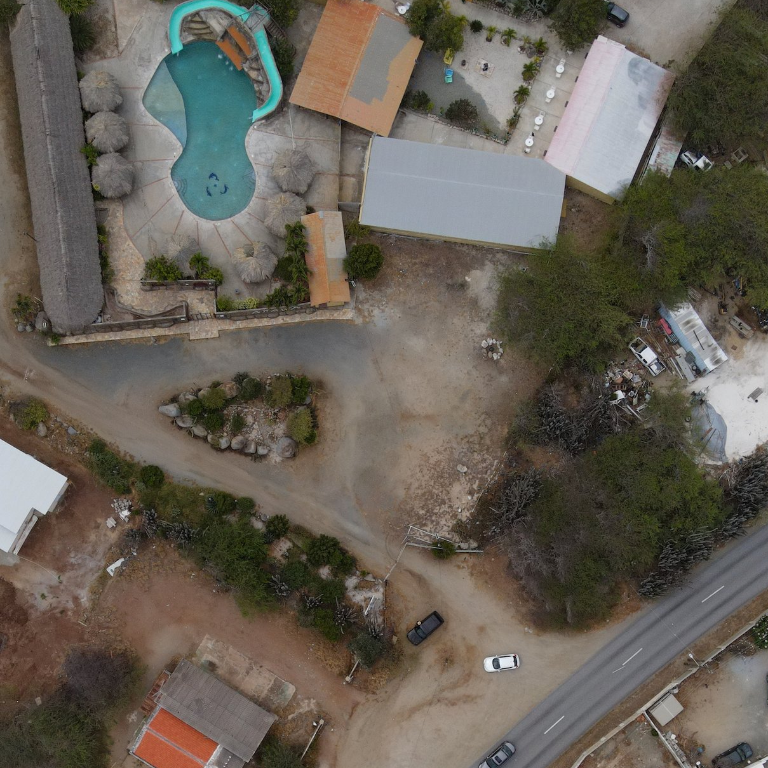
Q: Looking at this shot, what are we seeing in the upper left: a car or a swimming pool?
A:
swimming pool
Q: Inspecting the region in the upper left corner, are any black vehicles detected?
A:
No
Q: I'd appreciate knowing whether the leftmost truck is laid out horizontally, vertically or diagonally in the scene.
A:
diagonally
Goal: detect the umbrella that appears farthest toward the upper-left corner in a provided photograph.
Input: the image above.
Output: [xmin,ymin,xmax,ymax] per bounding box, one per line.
[80,69,129,114]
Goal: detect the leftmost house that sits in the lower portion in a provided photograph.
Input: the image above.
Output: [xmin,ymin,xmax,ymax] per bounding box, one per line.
[0,433,82,554]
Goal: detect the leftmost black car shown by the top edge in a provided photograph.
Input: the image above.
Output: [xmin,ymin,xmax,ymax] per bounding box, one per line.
[600,1,632,29]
